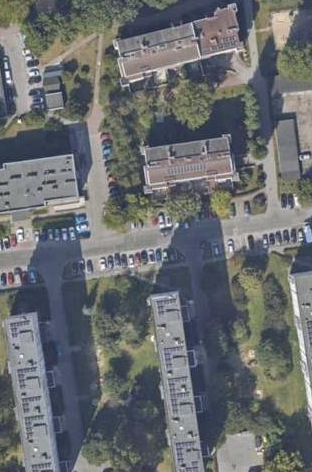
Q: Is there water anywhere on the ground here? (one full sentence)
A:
No, water can't be seen anywhere here.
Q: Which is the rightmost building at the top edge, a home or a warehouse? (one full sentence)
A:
From above, the rightmost building at the top edge can be identified as a home.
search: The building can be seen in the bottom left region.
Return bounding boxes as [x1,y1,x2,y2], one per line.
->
[7,312,70,472]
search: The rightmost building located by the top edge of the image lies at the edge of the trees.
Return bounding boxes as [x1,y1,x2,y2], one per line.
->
[112,2,244,85]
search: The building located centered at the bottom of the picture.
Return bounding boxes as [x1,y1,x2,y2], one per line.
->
[149,291,212,472]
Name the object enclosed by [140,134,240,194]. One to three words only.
house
